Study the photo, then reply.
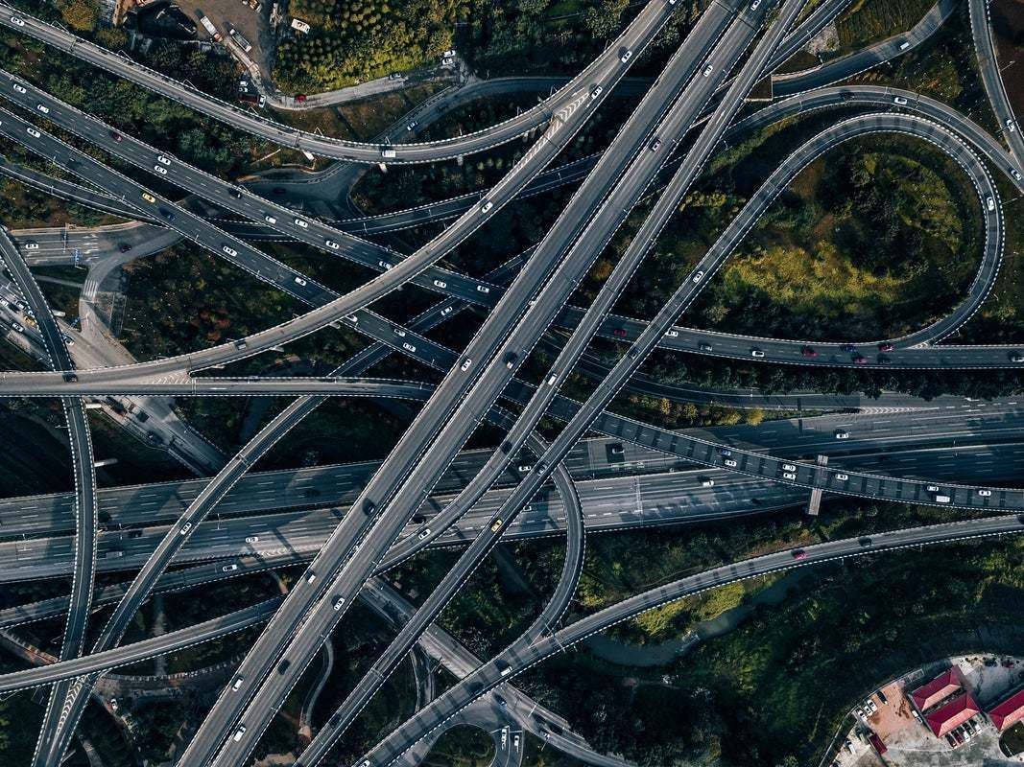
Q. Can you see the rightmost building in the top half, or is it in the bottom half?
bottom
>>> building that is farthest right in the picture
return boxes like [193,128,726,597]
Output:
[984,685,1024,732]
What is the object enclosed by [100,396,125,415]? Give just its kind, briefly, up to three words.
vehicle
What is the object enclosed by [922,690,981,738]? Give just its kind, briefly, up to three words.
building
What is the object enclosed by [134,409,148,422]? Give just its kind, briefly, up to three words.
vehicle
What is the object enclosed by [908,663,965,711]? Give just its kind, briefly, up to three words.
building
